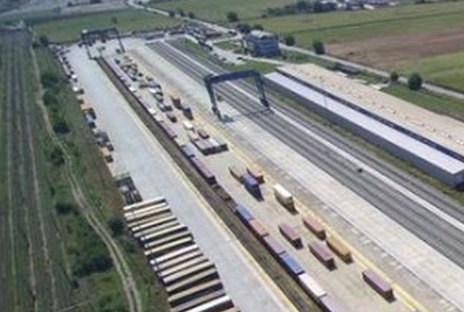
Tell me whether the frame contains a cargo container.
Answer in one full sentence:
Yes, a cargo container appears in the view.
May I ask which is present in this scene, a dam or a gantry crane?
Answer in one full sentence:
This aerial view contains a gantry crane.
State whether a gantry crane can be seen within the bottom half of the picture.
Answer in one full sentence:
No, there is no gantry crane within the bottom half of the picture.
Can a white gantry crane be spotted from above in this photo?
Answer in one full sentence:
No, no white gantry crane is visible in the view.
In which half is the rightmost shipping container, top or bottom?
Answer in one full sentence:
It is in the bottom half that the rightmost shipping container appears.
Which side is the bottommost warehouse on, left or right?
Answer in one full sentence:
It is on the right.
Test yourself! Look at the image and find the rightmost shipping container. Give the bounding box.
[363,269,393,299]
